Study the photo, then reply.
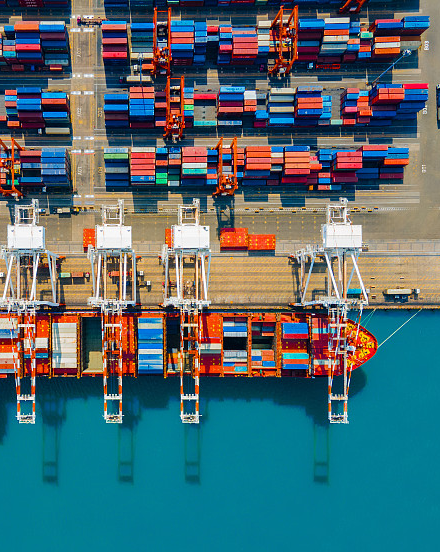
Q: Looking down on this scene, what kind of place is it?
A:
port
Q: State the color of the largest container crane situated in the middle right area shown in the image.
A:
white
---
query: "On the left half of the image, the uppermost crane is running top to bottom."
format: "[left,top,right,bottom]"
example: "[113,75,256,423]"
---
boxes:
[148,5,174,78]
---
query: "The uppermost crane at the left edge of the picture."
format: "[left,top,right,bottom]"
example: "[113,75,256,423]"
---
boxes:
[0,135,26,200]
